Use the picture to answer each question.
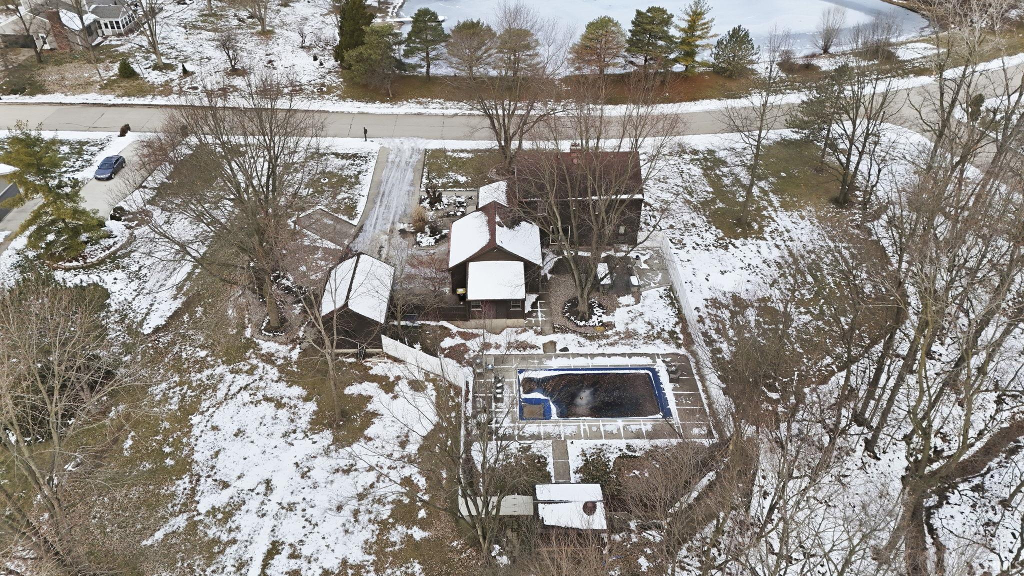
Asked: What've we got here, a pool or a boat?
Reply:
pool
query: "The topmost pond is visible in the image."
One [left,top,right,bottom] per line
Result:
[372,0,929,77]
